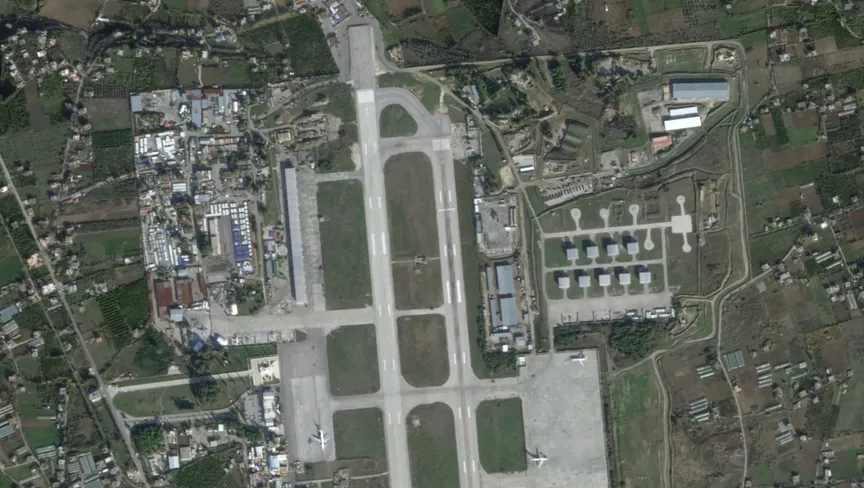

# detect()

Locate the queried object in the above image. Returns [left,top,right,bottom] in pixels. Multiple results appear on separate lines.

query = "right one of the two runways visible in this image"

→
[430,138,482,488]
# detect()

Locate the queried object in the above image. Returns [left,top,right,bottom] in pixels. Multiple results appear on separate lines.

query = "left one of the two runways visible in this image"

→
[354,89,411,488]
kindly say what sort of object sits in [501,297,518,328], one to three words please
hangar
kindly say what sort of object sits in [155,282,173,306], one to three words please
building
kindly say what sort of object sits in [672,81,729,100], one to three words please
building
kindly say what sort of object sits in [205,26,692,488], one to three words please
airport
